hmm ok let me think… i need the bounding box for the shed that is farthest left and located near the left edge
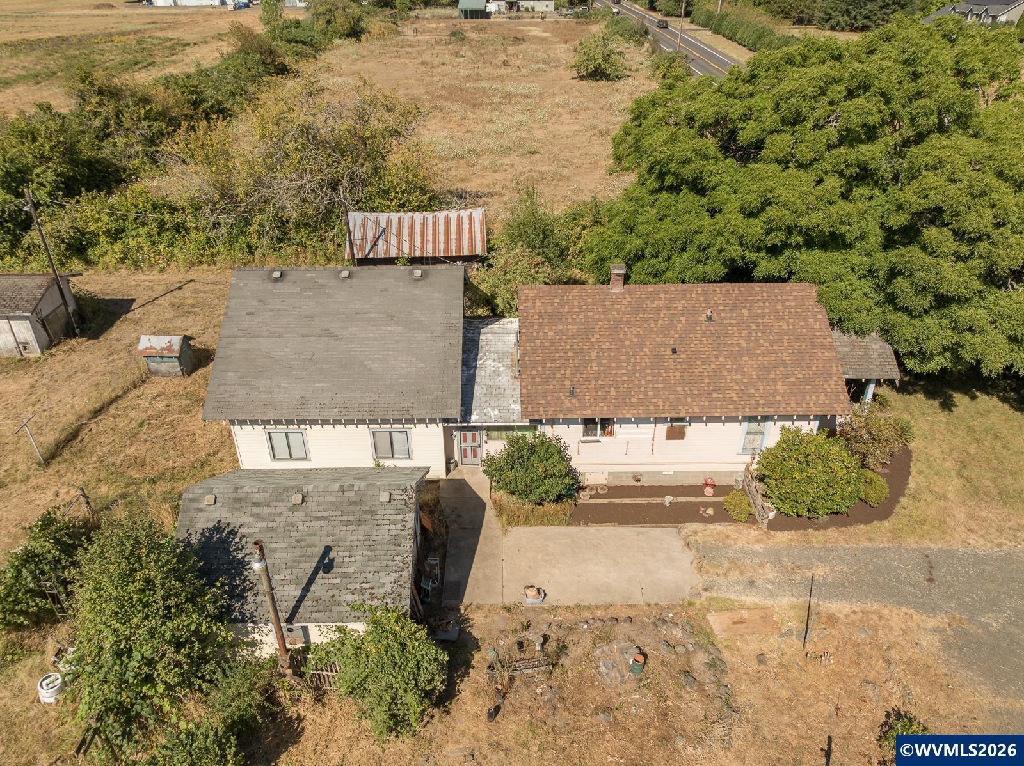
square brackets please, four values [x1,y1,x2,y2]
[0,273,88,354]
